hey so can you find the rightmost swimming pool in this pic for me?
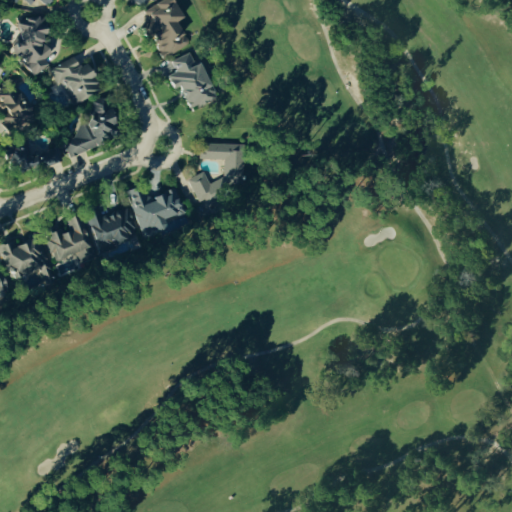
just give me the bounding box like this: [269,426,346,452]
[200,160,220,174]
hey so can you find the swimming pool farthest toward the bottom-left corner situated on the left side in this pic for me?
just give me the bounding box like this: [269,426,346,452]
[58,260,79,272]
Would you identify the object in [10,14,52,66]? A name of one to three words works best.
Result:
house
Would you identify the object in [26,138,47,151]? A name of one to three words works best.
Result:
swimming pool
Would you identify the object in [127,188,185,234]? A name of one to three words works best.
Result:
house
